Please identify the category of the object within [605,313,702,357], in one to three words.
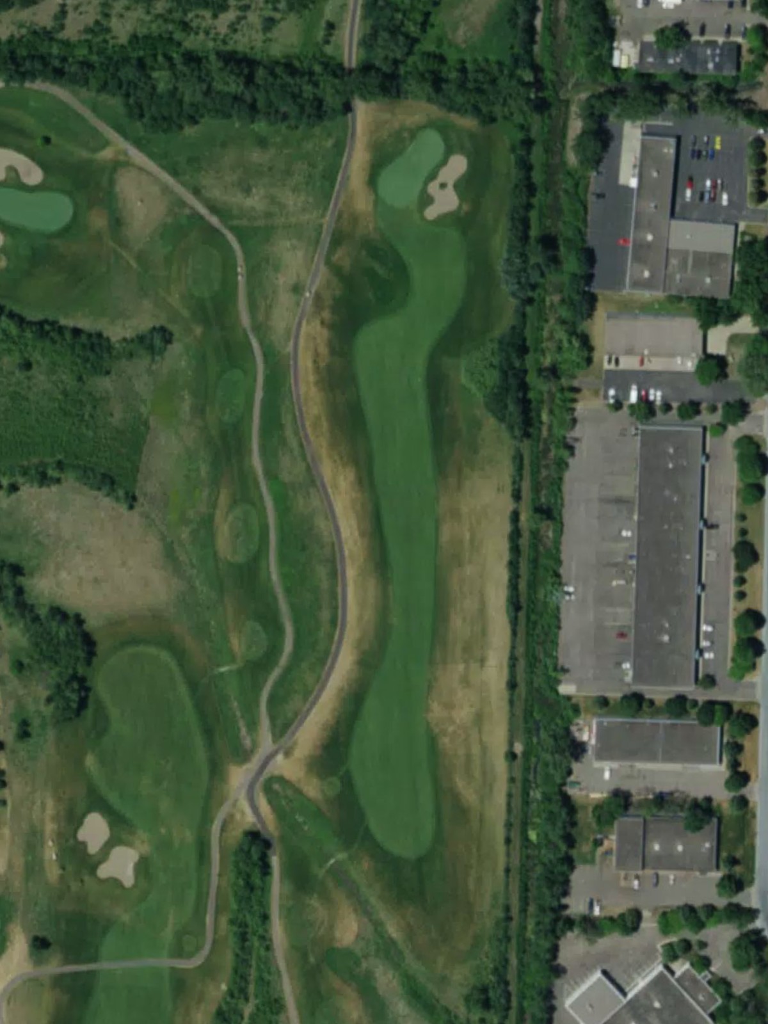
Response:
building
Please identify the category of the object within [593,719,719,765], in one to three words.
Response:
building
